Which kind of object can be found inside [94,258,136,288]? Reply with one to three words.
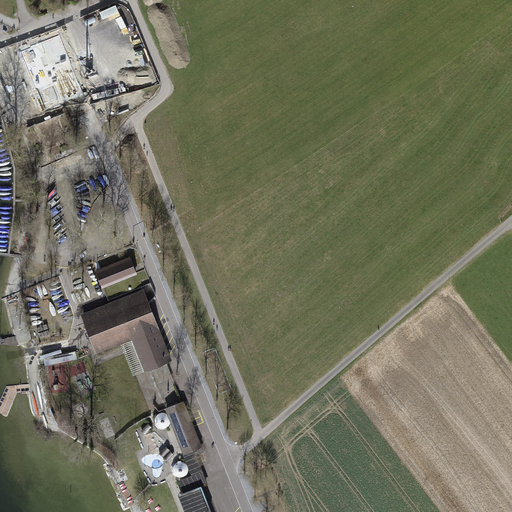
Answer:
shed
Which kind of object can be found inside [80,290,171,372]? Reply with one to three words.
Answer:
building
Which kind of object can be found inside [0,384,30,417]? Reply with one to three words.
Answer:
pier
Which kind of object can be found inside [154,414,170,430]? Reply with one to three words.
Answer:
umbrella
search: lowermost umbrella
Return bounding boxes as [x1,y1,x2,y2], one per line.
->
[172,462,188,478]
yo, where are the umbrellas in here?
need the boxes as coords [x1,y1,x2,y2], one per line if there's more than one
[172,462,188,478]
[154,414,170,430]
